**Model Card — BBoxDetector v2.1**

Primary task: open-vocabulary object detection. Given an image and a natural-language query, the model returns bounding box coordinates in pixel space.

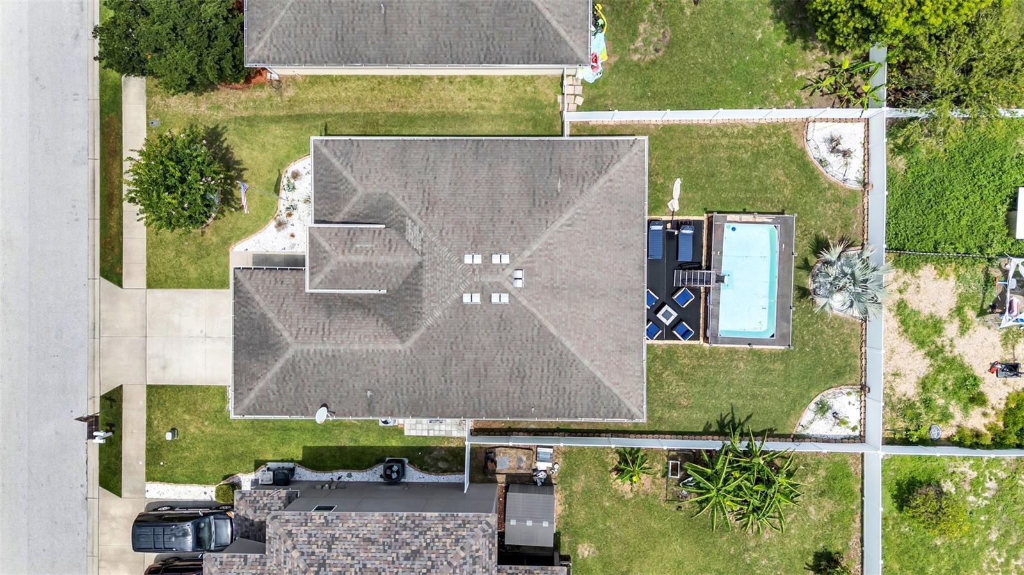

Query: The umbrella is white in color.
[668,178,681,229]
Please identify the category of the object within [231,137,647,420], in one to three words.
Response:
house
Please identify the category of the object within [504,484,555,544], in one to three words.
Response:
shed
